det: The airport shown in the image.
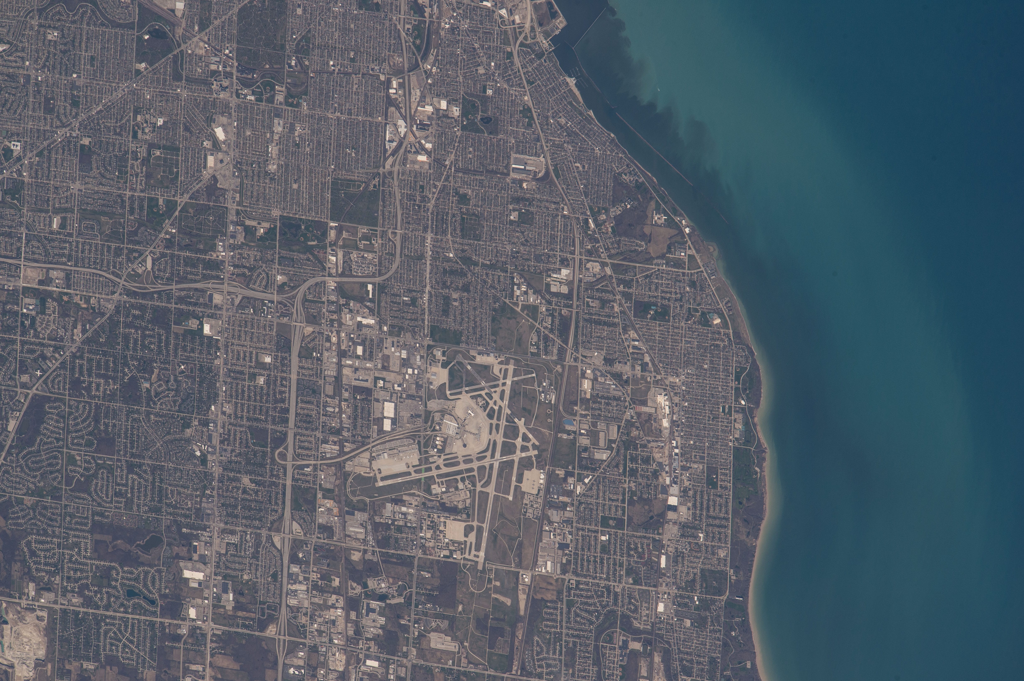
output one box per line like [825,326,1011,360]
[348,347,564,570]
